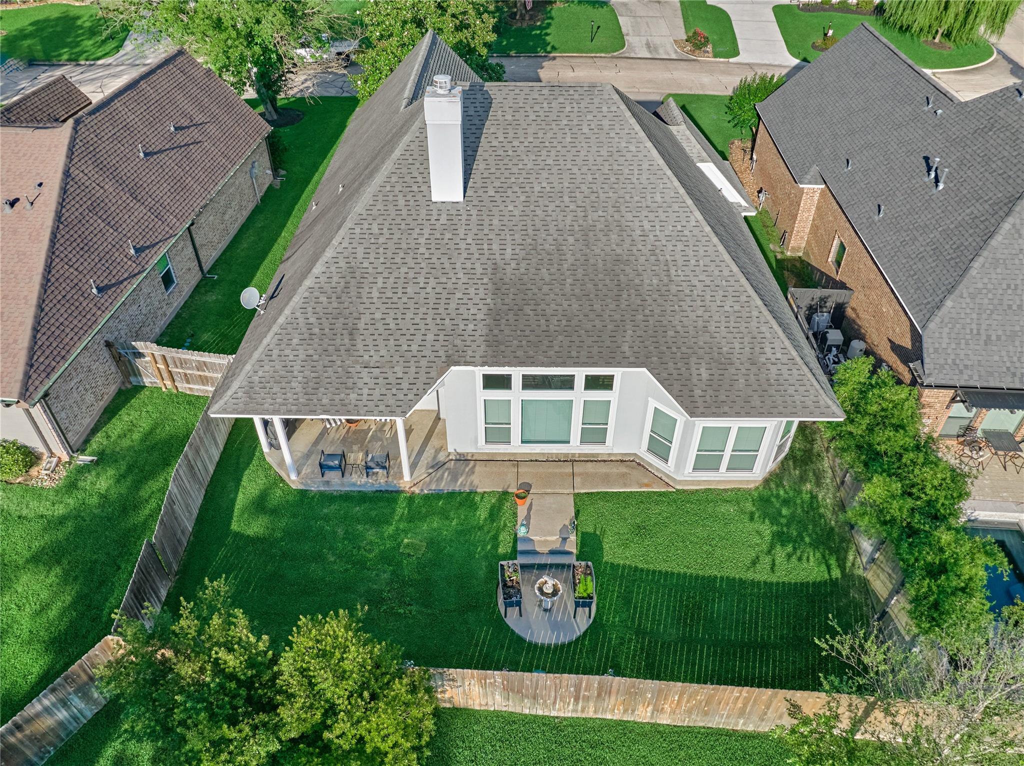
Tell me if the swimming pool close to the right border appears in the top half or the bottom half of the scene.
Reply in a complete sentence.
You can find the swimming pool close to the right border in the bottom half.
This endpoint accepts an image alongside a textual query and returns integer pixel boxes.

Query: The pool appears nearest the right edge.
[975,518,1024,651]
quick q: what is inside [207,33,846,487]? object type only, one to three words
house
